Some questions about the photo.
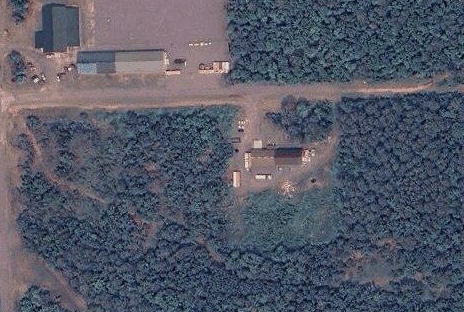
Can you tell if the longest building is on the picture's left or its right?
left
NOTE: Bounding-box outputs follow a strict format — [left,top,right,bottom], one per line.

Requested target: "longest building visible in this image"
[78,49,165,74]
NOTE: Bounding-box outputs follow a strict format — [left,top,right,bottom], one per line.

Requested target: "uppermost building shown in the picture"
[35,4,79,51]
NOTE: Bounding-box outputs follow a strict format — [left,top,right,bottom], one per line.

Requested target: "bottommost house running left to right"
[250,148,303,170]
